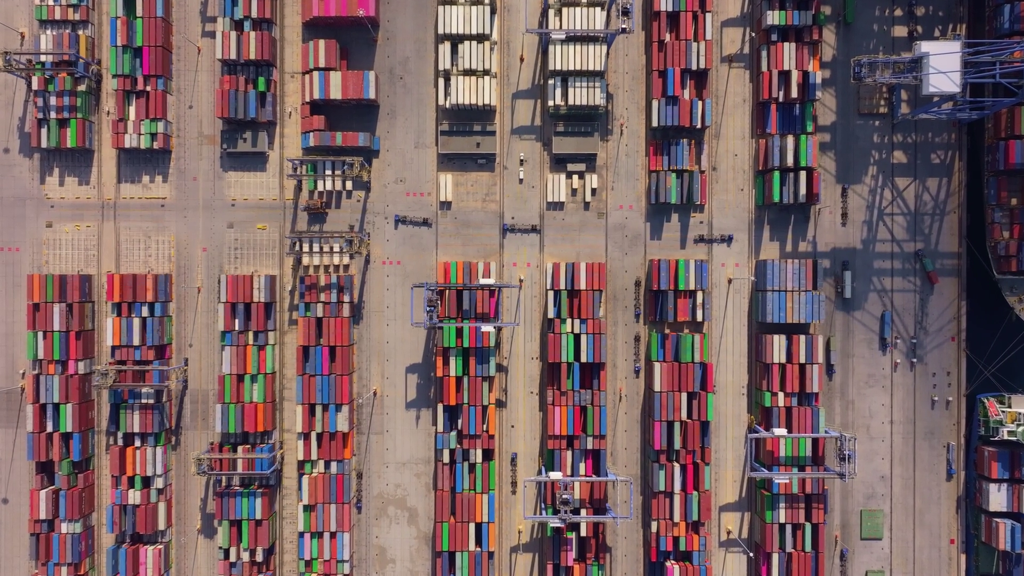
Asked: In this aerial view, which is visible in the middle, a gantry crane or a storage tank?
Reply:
gantry crane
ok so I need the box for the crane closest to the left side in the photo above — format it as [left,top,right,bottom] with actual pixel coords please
[0,48,99,88]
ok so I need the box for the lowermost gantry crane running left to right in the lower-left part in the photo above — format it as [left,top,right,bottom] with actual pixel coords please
[190,438,282,476]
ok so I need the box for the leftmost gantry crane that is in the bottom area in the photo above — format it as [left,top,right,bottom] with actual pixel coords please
[92,356,187,390]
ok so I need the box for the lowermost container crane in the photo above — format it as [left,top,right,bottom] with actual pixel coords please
[524,459,633,527]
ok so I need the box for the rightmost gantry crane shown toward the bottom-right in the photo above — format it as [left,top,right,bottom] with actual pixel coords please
[748,418,858,483]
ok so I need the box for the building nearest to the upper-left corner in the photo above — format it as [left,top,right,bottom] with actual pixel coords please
[220,129,272,155]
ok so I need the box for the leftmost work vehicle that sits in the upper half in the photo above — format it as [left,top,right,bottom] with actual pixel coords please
[301,201,327,214]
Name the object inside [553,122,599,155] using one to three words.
building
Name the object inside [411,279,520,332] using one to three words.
container crane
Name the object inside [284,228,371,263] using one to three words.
container crane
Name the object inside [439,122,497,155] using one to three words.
building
